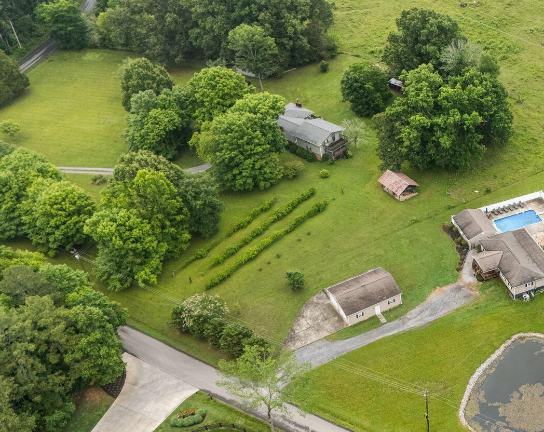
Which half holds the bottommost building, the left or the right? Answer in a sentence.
The bottommost building sits on the right side.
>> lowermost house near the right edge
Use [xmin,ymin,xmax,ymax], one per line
[471,230,544,298]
